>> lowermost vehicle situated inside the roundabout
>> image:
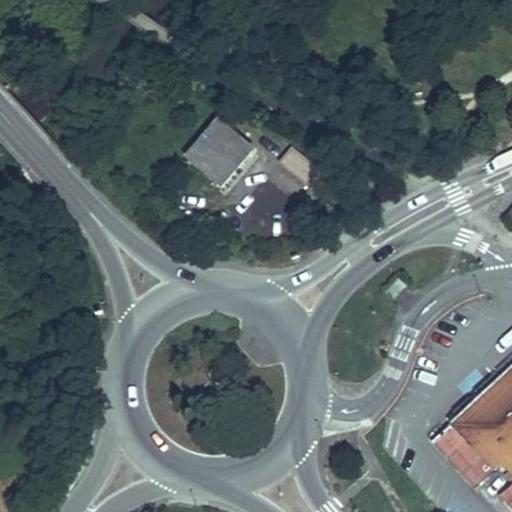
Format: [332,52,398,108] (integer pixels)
[150,432,170,452]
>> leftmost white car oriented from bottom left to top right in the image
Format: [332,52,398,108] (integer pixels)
[236,196,256,214]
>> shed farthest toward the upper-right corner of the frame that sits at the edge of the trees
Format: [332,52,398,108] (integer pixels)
[280,146,312,190]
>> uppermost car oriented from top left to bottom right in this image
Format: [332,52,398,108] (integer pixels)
[260,136,280,156]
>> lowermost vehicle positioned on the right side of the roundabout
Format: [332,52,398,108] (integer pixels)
[487,477,508,496]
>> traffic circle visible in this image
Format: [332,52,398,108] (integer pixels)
[104,272,329,498]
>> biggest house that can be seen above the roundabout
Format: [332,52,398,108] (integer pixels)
[184,117,258,194]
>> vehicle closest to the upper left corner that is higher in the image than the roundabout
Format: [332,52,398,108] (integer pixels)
[183,196,206,208]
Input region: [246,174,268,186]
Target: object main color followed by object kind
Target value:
white vehicle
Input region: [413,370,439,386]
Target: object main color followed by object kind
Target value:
white vehicle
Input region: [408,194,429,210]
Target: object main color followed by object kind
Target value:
white car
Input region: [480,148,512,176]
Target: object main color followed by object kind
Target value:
white bus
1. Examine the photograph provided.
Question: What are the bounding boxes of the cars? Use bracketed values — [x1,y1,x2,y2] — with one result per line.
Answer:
[150,432,170,452]
[228,213,244,232]
[260,136,280,156]
[430,332,452,348]
[450,311,471,327]
[437,320,459,336]
[236,196,256,214]
[272,216,283,236]
[246,174,268,186]
[487,477,508,496]
[372,245,394,263]
[292,270,314,286]
[400,448,416,470]
[176,268,198,282]
[418,358,440,372]
[128,386,138,408]
[408,194,429,210]
[183,196,206,208]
